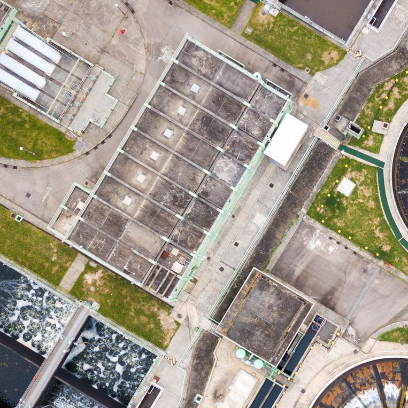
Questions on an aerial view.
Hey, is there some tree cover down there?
No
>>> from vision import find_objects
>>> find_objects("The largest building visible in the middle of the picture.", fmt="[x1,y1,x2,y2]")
[63,36,295,303]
